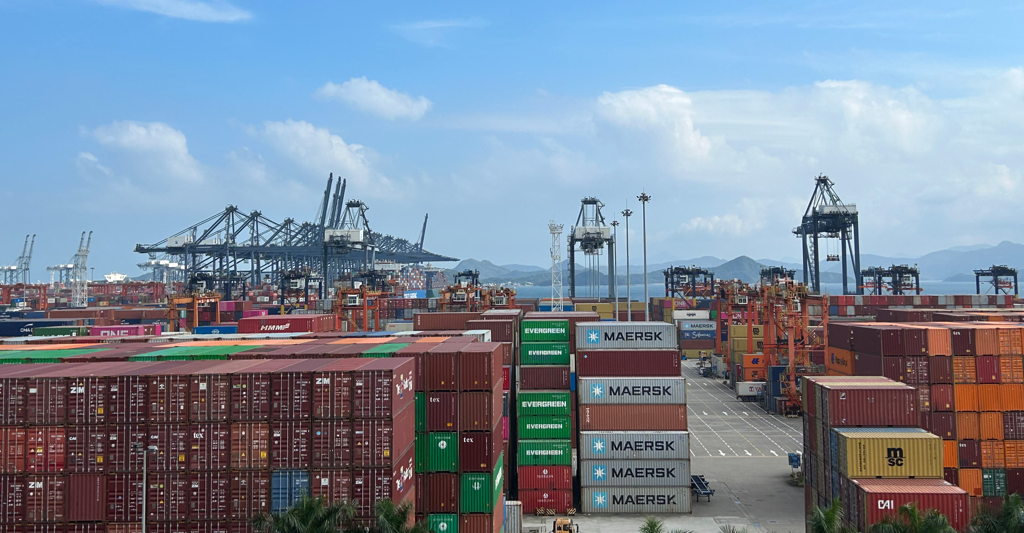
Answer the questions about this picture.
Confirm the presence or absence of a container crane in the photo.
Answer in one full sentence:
Yes, the picture does show a container crane.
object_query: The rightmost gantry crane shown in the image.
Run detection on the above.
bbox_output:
[964,263,1022,295]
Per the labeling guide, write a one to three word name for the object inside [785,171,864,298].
container crane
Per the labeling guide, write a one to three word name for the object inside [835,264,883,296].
container crane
